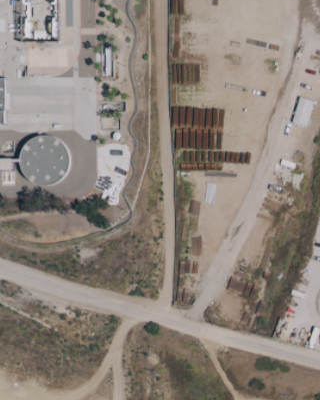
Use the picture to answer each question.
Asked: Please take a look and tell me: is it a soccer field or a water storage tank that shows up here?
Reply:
water storage tank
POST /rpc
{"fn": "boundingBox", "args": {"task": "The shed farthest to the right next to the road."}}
[293,97,316,126]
